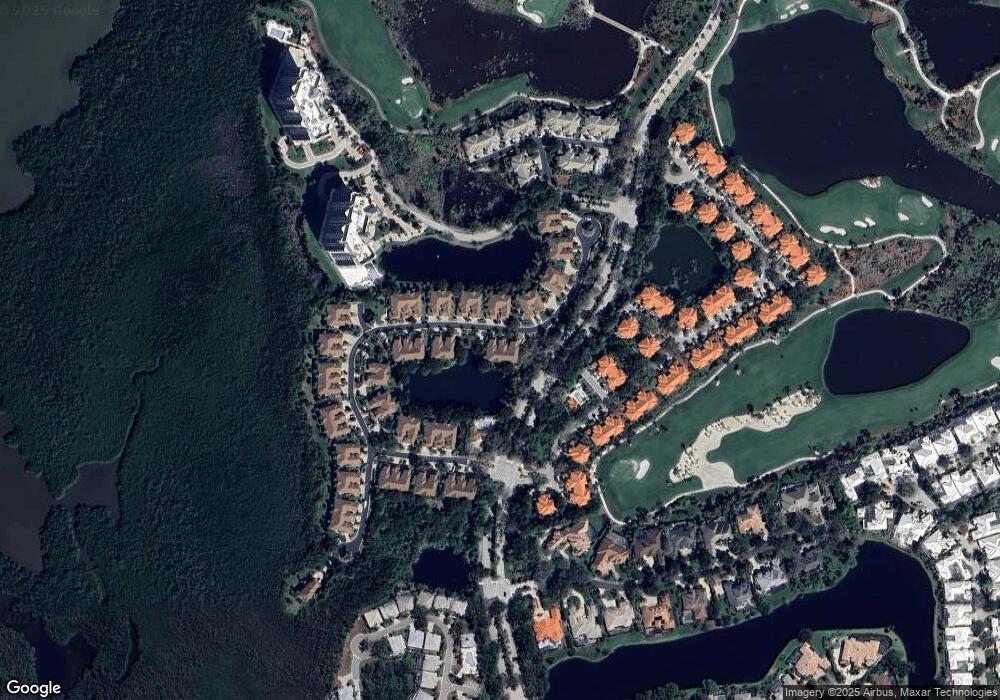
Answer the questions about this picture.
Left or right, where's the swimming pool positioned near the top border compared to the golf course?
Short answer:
to its left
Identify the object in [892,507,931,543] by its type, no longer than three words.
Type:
house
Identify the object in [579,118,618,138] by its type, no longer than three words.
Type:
building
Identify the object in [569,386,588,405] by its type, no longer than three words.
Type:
swimming pool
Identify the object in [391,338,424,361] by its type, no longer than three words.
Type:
house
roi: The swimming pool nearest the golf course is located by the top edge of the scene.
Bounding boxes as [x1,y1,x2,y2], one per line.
[266,21,293,41]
